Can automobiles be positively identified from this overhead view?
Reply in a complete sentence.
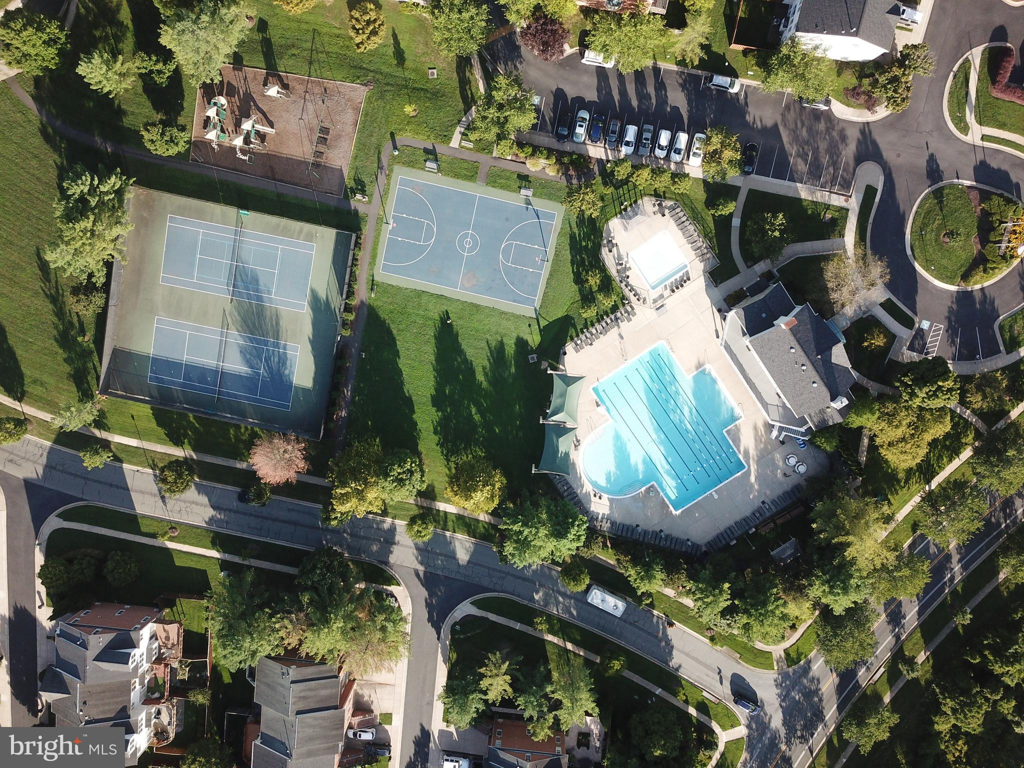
Yes, there's an automobile here.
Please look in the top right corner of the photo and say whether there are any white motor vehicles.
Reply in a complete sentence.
Yes, a white motor vehicle shows up in the top right corner of the photo.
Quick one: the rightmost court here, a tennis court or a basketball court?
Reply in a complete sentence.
Specifically, the rightmost court is a basketball court.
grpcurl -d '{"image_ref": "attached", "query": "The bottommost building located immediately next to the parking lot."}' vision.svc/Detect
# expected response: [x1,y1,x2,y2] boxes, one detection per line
[717,282,855,445]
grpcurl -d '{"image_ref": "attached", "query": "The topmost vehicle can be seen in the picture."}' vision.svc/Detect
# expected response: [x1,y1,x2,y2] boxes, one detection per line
[907,6,928,27]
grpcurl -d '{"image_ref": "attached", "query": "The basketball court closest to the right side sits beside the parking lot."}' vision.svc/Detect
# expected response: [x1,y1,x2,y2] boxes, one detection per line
[374,166,565,318]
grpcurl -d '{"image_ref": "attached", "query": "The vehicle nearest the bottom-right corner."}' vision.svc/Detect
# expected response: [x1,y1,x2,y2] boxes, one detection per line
[732,694,761,715]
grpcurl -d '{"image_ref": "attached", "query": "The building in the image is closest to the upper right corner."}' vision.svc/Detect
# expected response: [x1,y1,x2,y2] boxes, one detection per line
[771,0,910,72]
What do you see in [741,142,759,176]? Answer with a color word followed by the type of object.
black car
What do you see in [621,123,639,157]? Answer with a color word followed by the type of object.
white car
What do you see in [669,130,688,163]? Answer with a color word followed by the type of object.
white car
